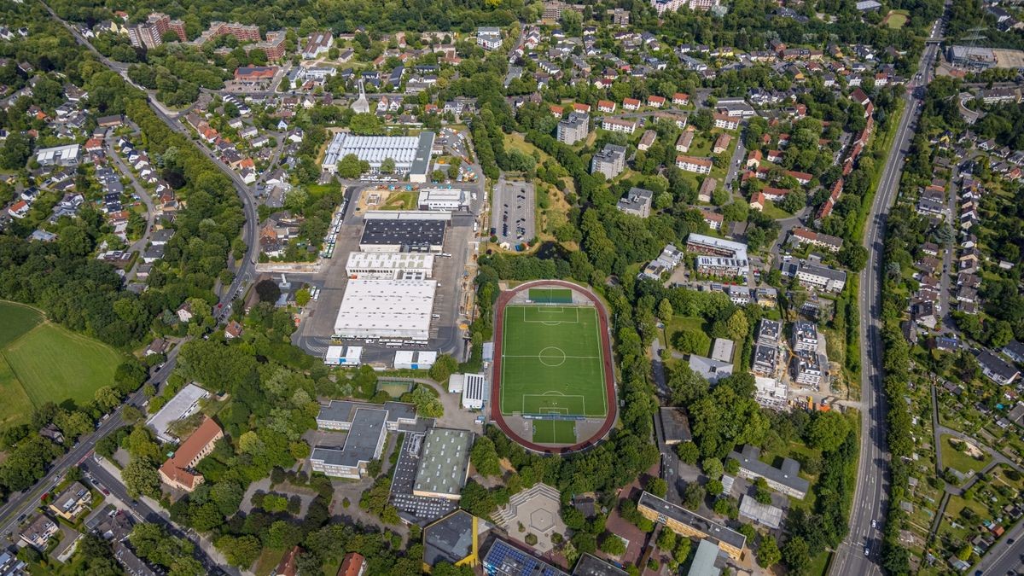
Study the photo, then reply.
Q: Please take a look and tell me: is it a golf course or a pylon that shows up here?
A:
pylon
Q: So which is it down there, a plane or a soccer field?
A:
soccer field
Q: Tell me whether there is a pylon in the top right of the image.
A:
Yes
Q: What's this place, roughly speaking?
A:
residential area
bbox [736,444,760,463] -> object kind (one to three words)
house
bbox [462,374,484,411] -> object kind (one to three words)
building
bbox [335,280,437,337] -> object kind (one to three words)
building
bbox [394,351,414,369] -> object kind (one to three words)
shed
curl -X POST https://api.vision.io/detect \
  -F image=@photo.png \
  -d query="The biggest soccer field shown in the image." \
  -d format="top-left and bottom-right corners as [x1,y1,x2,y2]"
[500,301,608,419]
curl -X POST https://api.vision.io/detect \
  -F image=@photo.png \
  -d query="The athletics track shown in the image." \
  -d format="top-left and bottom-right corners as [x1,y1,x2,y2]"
[489,278,619,456]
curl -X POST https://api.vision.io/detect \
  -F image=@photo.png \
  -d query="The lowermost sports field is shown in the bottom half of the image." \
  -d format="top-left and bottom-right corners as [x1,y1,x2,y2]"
[533,420,577,443]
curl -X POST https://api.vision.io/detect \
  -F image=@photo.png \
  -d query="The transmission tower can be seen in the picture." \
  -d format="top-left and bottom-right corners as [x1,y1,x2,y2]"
[971,13,998,55]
